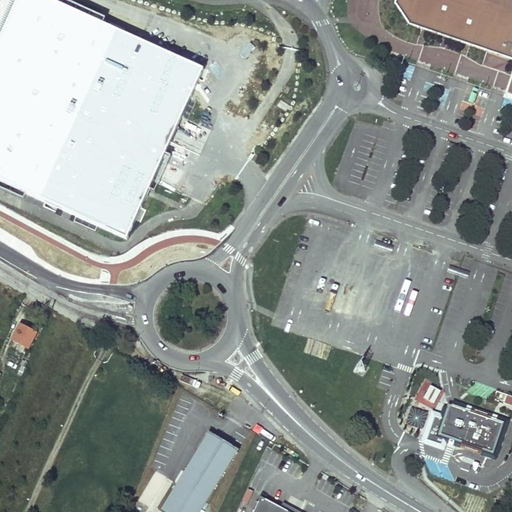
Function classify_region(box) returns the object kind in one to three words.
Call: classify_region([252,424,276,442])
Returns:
vehicle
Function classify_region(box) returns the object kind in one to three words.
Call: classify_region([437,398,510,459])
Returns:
building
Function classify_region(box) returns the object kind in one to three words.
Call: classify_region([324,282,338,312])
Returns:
vehicle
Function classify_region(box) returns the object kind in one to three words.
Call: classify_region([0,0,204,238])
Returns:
warehouse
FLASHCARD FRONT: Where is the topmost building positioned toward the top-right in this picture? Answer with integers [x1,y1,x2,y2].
[395,0,512,59]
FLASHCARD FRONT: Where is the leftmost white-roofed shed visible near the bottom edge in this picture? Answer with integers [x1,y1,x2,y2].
[132,471,174,512]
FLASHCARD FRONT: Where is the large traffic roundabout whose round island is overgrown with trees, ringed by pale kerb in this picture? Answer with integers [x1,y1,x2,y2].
[135,260,246,371]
